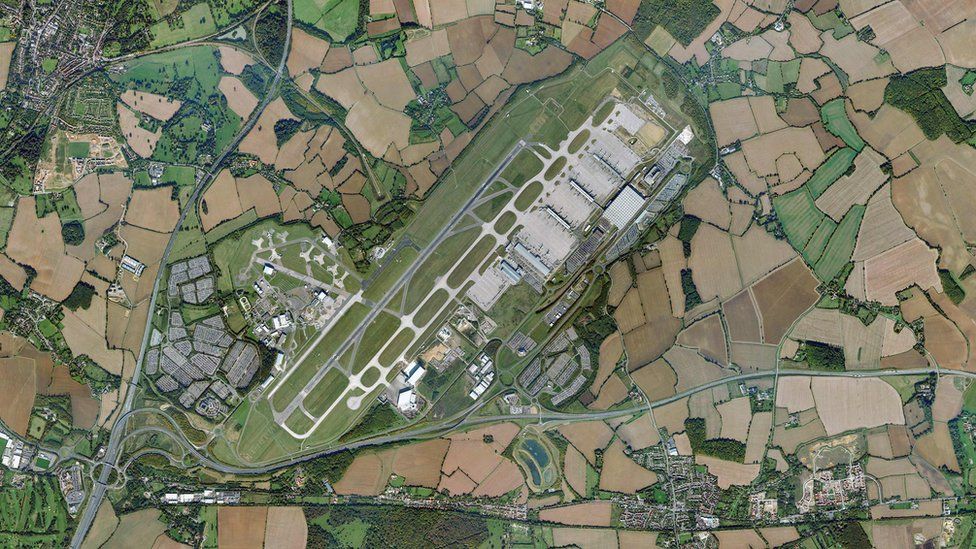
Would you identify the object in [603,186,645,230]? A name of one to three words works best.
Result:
building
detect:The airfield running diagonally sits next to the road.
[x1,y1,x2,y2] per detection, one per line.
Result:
[221,42,698,462]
